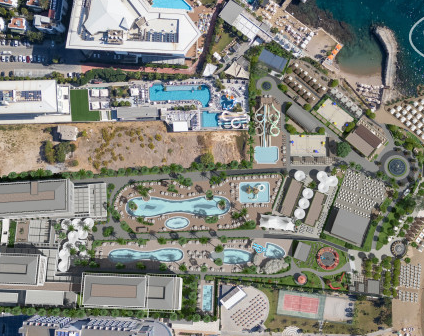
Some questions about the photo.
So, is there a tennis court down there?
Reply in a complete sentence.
Yes, there's a tennis court here.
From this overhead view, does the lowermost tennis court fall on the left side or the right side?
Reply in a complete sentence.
The lowermost tennis court sits on the right side.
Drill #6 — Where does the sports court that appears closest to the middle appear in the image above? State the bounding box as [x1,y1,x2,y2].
[290,135,326,156]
